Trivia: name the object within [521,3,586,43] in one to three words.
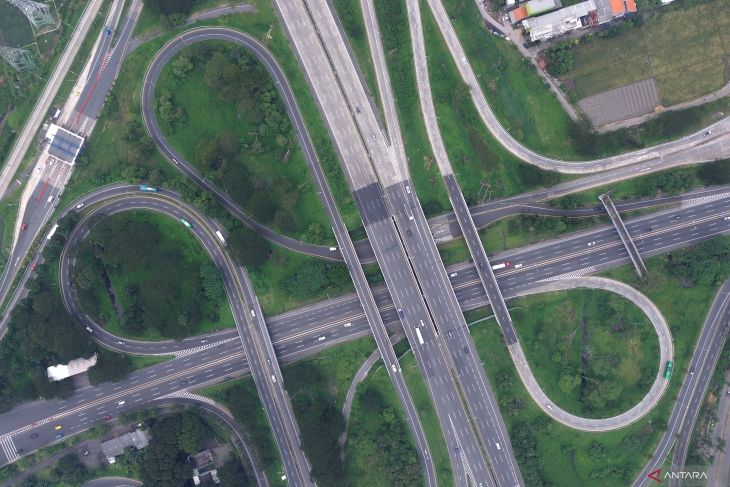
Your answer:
building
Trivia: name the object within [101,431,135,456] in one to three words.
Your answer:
building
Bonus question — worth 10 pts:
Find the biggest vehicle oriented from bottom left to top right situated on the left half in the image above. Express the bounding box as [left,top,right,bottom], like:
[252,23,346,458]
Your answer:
[44,223,59,240]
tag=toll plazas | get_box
[46,126,88,171]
